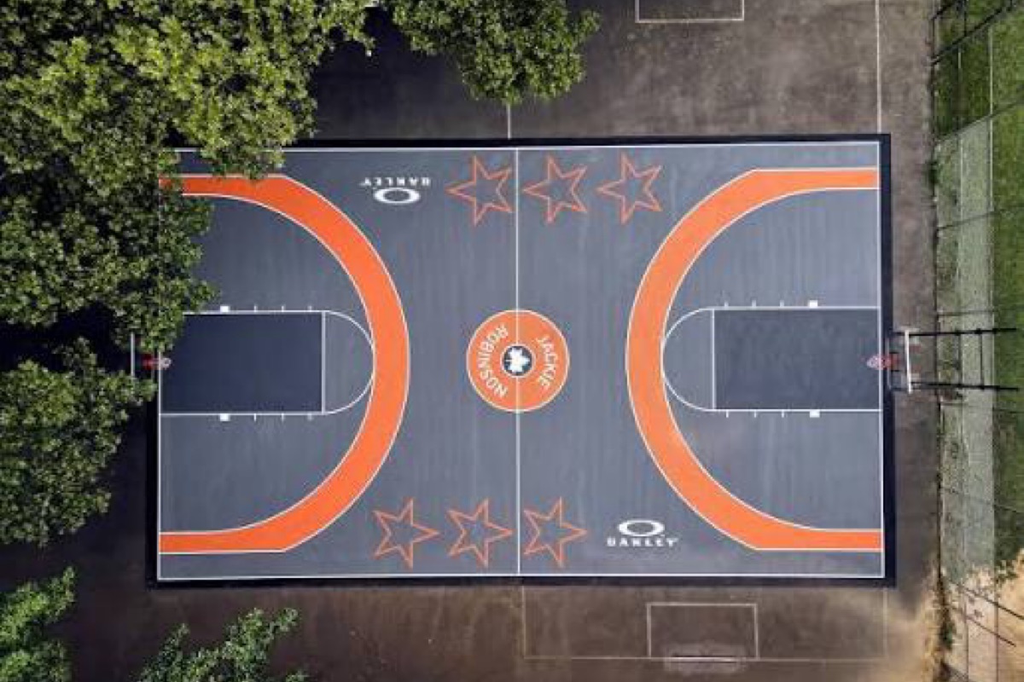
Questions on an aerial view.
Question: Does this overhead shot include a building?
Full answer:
No, the scene contains no building.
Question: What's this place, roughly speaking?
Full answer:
What you see here is a sports ground.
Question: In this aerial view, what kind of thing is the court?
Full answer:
It turns out the court is a basketball court.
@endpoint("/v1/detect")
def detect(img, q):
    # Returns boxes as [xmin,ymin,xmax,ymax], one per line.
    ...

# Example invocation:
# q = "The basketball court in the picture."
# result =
[148,134,896,588]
